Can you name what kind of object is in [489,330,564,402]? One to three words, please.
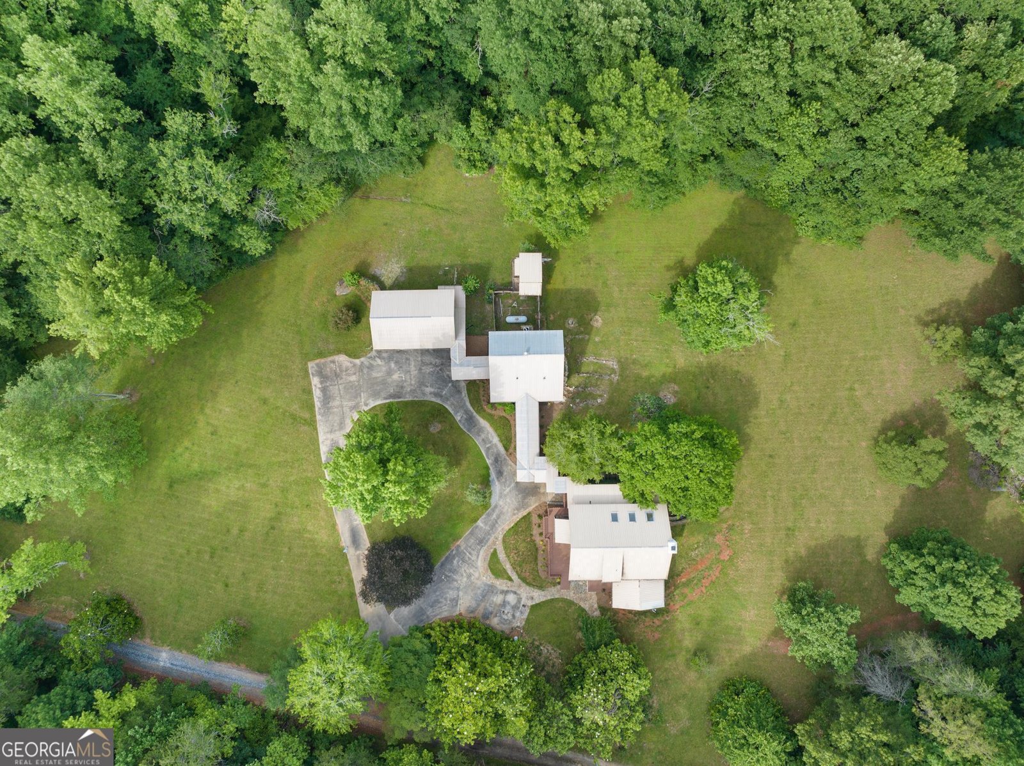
house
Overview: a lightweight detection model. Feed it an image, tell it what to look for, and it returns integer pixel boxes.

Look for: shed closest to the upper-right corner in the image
[514,253,551,299]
